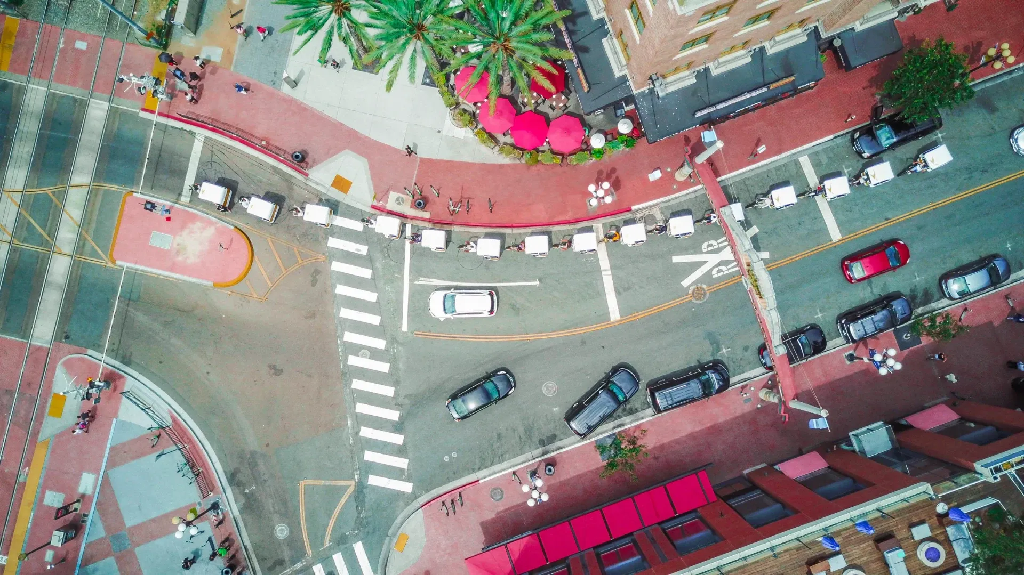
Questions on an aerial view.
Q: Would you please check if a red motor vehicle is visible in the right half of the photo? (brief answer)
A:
Yes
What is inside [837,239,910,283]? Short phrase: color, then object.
red car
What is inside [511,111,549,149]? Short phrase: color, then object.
pink umbrella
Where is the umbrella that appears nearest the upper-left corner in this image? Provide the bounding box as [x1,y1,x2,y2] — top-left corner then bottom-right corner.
[157,50,173,67]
